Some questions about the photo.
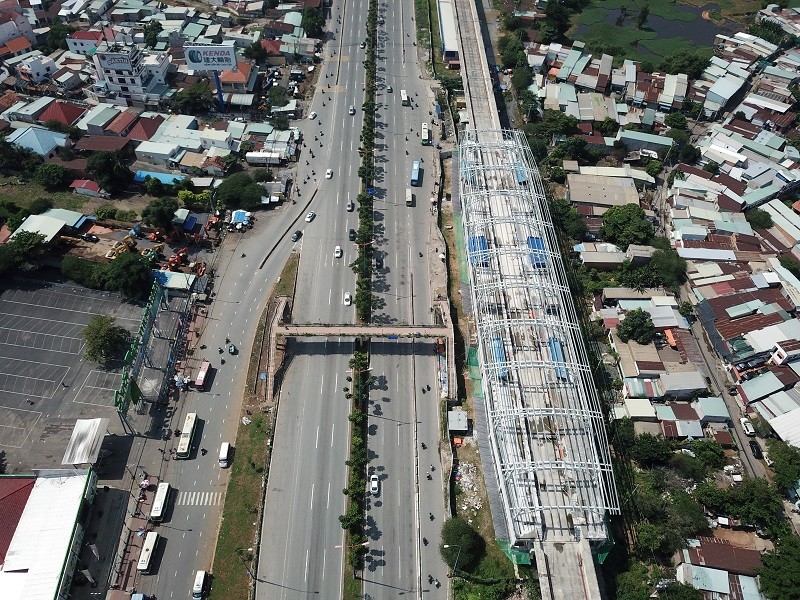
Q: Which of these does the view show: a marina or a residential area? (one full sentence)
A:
This image shows a residential area.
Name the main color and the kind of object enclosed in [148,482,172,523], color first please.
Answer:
white bus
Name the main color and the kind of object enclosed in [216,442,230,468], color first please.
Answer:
white vehicle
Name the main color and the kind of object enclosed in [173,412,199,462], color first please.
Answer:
white bus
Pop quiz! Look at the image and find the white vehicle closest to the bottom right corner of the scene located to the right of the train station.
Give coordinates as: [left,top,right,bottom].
[740,417,757,438]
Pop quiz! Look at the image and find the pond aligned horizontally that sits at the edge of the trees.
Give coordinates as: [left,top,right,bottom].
[564,0,749,74]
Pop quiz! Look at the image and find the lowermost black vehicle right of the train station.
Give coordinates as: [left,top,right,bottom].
[746,438,763,459]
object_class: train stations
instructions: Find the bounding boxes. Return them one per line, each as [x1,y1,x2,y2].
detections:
[452,120,624,575]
